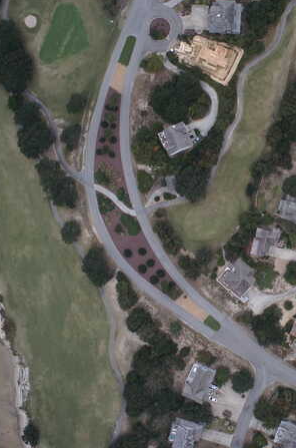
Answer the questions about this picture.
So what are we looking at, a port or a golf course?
golf course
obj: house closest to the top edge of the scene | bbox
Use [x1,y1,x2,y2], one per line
[210,1,240,34]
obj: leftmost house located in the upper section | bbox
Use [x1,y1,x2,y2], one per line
[159,120,200,155]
